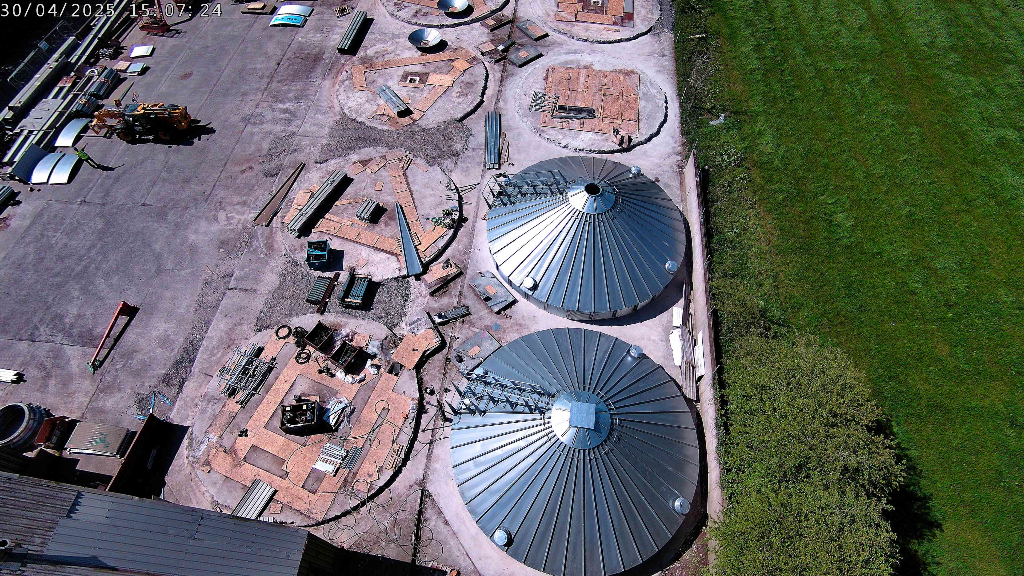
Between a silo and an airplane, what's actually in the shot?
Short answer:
silo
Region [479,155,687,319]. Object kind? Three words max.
silo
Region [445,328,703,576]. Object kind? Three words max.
silo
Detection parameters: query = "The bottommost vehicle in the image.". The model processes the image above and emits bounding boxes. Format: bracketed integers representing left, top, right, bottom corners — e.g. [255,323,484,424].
[88,88,194,142]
